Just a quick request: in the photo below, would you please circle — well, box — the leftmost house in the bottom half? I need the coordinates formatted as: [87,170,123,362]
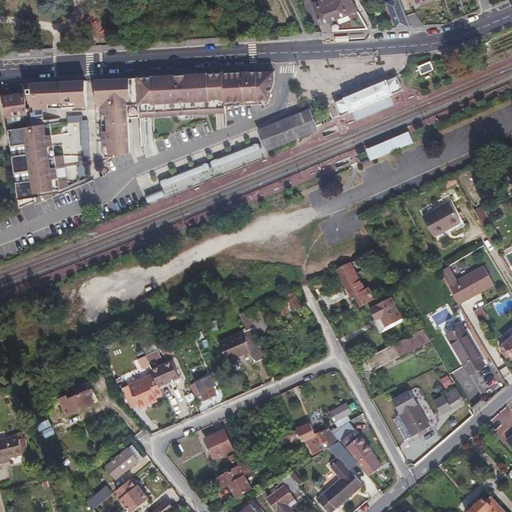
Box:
[0,432,29,468]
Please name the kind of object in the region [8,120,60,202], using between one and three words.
building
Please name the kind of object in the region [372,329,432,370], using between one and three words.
barn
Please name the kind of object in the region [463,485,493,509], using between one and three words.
shed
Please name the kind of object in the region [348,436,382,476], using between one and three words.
house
